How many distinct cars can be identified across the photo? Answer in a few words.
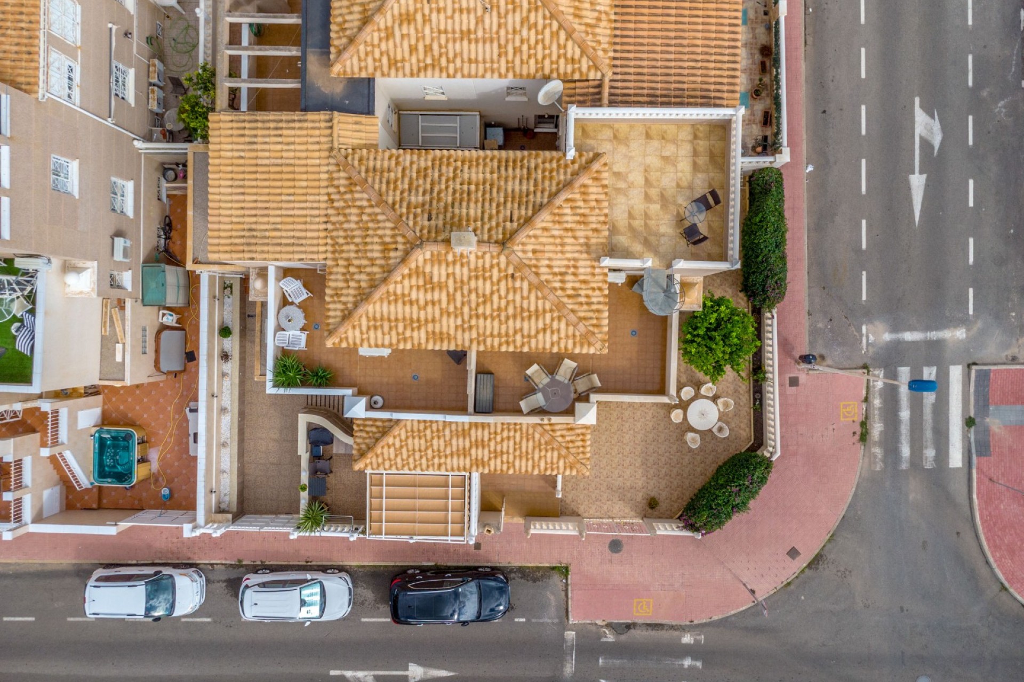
three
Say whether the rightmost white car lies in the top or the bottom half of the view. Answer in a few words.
bottom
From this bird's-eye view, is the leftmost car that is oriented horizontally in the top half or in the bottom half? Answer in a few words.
bottom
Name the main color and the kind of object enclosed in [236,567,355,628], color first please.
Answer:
white car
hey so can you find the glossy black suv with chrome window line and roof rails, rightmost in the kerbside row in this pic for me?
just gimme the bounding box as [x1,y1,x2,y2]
[391,567,510,631]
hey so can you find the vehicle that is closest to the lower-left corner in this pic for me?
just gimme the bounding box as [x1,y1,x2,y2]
[77,567,208,628]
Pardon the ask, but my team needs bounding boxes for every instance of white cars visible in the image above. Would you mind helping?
[236,567,355,628]
[77,567,208,628]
